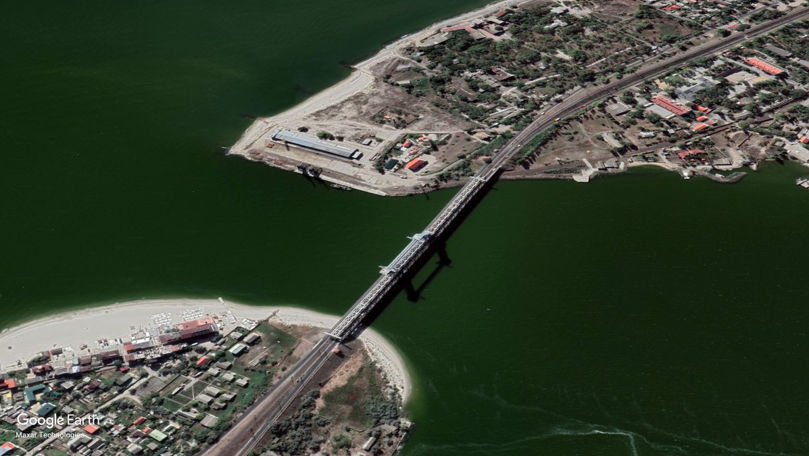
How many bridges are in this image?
one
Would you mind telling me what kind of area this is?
port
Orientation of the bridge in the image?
at an angle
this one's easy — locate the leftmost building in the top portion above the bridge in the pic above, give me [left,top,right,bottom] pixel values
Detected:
[270,131,359,164]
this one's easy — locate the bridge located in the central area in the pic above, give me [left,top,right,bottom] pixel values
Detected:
[316,179,495,352]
